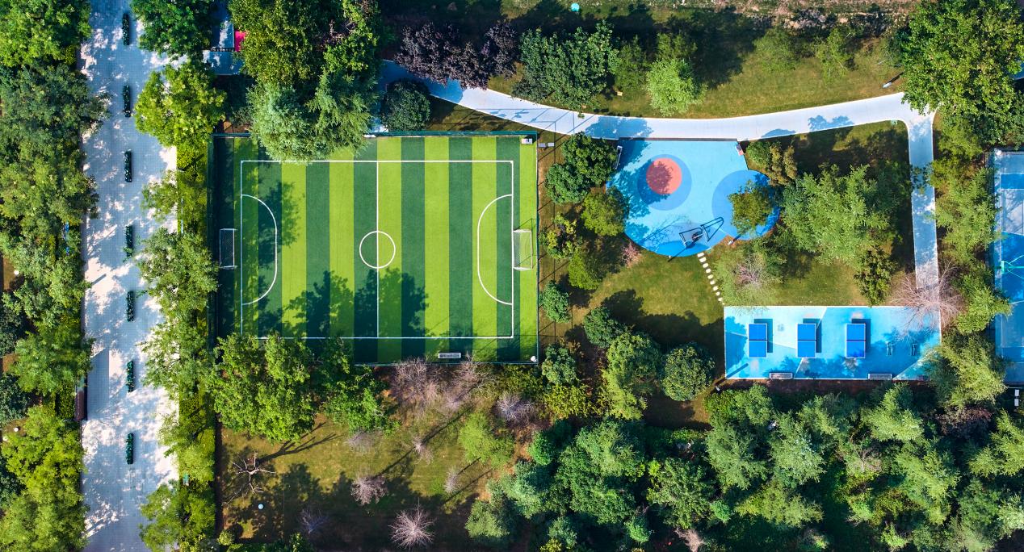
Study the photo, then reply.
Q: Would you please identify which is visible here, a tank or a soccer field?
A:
soccer field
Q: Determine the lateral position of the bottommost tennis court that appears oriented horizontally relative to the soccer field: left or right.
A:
right of it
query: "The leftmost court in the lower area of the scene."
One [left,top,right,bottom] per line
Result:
[724,306,941,379]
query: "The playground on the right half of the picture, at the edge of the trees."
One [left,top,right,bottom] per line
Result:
[607,137,780,257]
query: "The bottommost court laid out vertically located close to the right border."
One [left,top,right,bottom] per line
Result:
[993,151,1024,383]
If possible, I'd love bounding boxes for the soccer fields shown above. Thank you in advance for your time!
[216,134,537,364]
